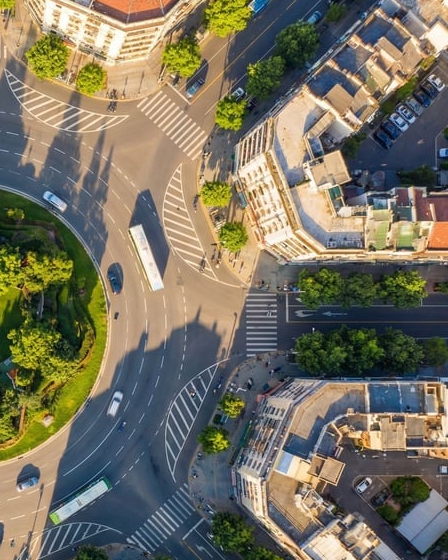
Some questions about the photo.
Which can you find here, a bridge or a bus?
bus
